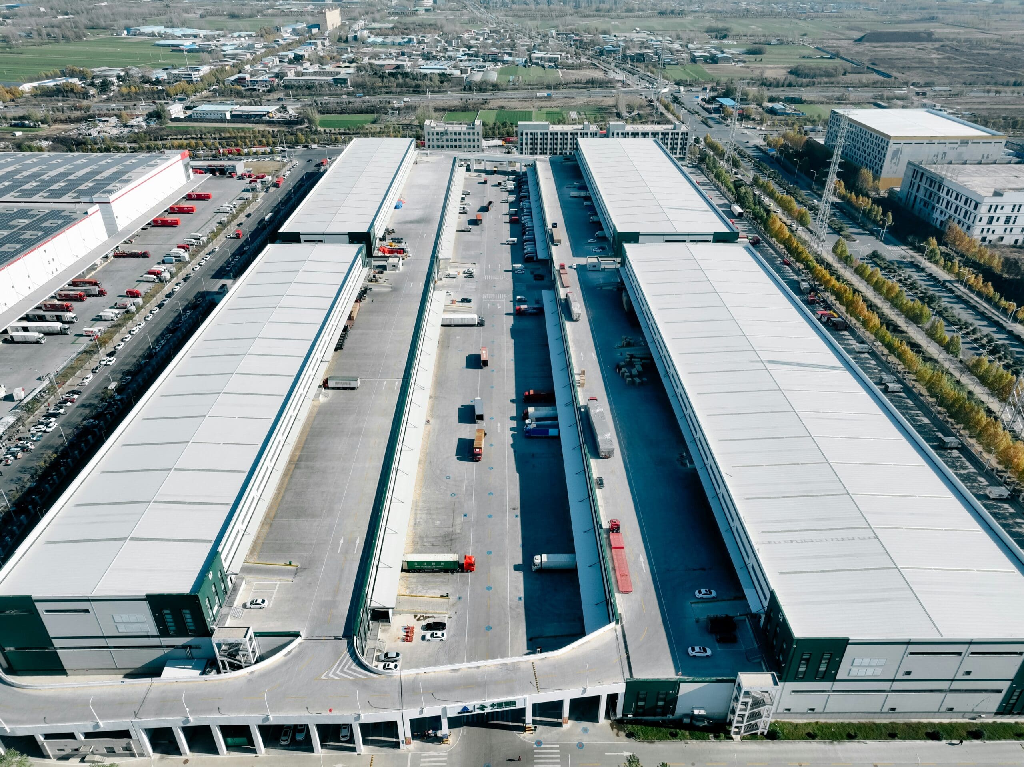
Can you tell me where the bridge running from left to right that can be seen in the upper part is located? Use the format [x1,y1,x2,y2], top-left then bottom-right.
[418,149,537,176]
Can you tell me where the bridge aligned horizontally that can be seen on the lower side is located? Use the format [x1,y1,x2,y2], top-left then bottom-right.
[0,619,630,767]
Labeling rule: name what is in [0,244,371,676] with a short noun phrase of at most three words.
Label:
warehouse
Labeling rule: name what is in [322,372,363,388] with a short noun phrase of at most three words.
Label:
vehicle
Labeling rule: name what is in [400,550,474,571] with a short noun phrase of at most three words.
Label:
truck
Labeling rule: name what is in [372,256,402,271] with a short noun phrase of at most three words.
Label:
shed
